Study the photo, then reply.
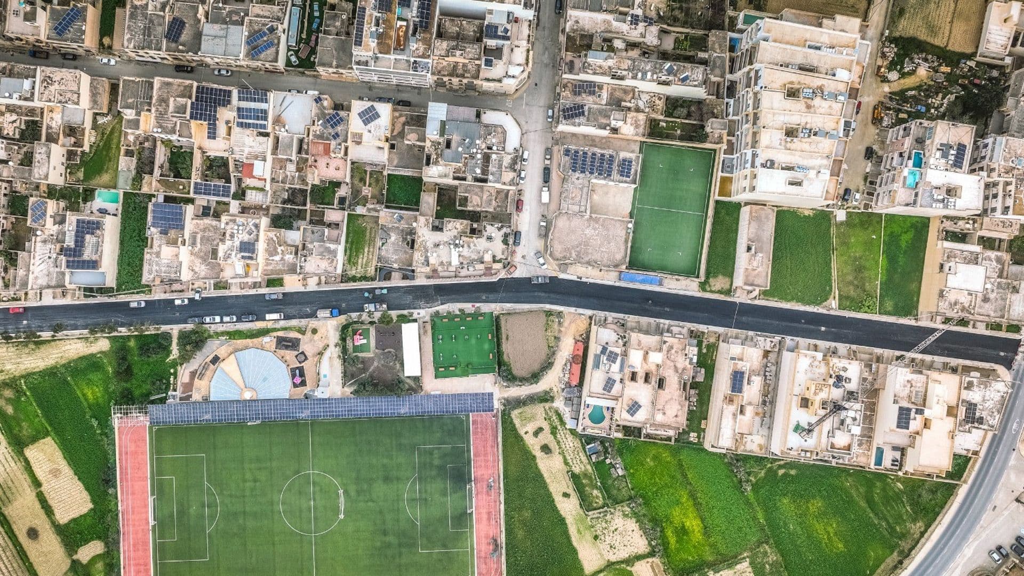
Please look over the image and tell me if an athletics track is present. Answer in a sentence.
Yes, looking at the shot, I can spot an athletics track.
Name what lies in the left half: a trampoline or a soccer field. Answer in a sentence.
You can see a soccer field in the left half.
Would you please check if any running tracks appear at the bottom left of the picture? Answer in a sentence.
Yes, a running track shows up at the bottom left of the picture.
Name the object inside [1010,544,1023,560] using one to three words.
vehicle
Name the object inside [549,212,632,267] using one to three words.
building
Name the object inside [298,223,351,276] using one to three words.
house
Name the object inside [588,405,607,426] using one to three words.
swimming pool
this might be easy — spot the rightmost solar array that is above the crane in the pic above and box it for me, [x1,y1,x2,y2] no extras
[956,142,969,169]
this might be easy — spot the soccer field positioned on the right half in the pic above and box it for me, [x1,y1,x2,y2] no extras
[628,144,716,278]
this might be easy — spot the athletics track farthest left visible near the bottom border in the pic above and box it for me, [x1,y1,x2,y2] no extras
[114,420,152,576]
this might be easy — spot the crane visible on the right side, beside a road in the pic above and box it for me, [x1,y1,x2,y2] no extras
[799,318,964,437]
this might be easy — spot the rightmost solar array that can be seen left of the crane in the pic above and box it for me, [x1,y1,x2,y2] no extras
[732,371,745,394]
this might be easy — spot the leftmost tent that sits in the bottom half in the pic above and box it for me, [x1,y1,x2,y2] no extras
[401,322,422,377]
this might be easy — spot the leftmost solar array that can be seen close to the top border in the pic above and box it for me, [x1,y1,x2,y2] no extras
[51,6,80,37]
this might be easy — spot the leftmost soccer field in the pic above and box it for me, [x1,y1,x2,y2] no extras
[150,414,475,576]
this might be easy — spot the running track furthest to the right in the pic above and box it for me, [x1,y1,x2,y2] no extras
[470,413,504,576]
